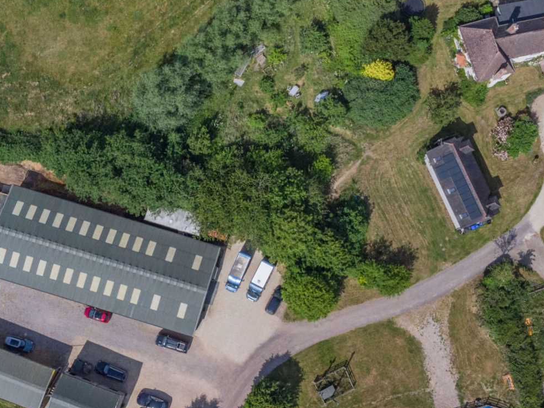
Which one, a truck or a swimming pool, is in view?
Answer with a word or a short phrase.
truck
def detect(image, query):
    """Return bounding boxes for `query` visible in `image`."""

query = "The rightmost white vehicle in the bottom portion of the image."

[244,260,276,303]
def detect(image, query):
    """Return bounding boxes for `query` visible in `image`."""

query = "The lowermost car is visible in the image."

[138,392,171,408]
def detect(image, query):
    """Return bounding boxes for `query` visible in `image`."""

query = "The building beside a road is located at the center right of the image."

[423,135,501,229]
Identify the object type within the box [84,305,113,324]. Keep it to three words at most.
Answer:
car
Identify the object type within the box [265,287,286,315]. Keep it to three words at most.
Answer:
car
